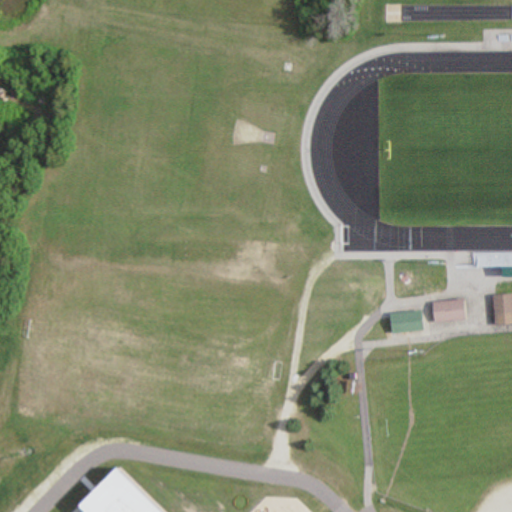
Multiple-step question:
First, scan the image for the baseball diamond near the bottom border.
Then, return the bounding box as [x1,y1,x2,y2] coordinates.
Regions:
[388,334,512,512]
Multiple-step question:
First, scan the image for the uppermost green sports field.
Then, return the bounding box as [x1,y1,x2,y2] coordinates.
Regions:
[378,72,512,228]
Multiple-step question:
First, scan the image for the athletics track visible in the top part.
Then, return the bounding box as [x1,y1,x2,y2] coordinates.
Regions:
[312,50,512,251]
